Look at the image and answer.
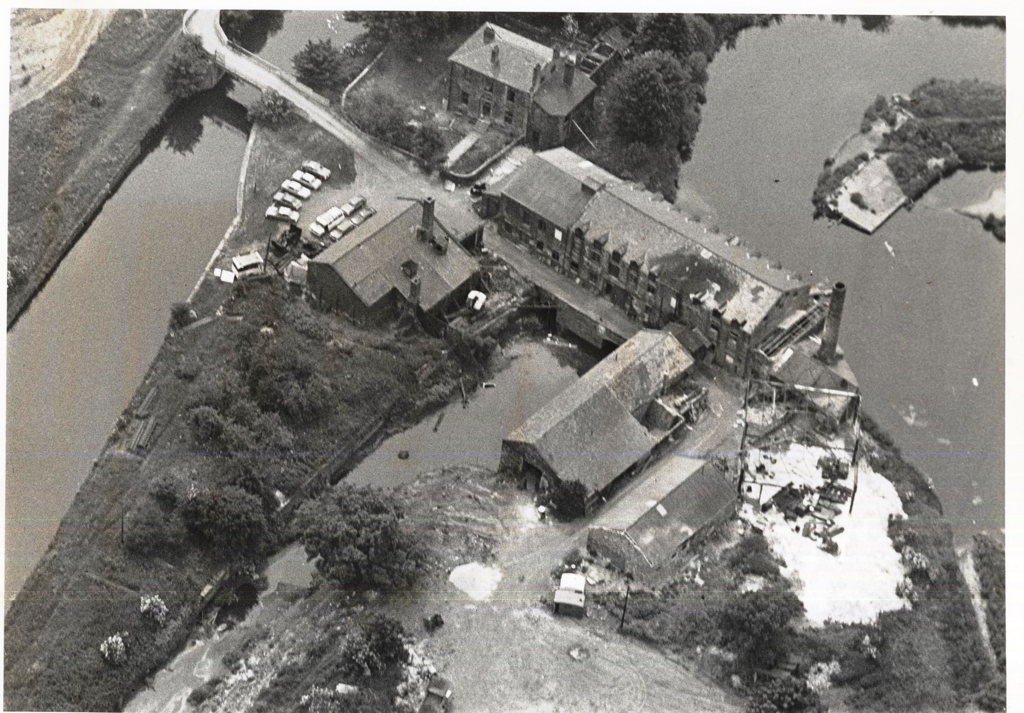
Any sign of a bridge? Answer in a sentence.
Yes, you can see a bridge in this photo.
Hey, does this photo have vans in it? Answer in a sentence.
Yes, the picture does show a van.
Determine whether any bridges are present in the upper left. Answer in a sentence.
Yes, a bridge can be seen in the upper left.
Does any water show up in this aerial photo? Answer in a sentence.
Yes, there's water in this view.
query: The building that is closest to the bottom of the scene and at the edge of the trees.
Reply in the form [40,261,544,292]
[587,458,737,590]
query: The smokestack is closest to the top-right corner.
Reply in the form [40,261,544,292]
[817,281,849,366]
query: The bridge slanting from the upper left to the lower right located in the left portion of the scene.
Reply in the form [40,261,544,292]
[182,4,331,114]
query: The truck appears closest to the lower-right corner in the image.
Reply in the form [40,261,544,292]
[557,567,585,618]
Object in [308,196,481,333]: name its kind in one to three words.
building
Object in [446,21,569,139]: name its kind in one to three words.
house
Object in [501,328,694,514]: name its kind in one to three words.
building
